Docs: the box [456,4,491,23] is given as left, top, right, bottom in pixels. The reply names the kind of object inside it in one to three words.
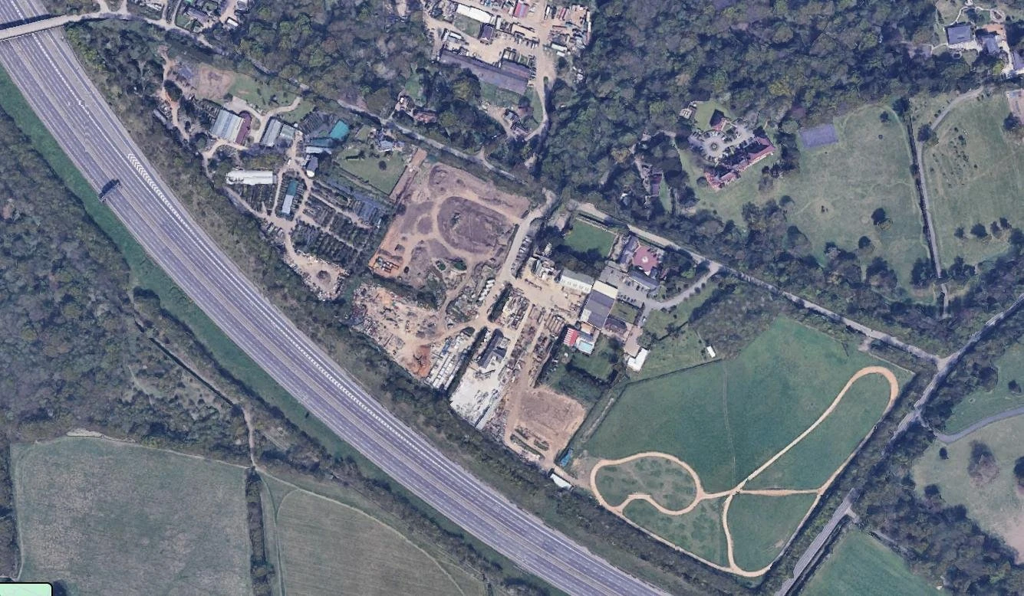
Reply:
shed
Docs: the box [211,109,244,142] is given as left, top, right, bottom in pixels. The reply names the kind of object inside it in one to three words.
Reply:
barn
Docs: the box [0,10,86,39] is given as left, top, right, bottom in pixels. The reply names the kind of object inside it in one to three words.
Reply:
bridge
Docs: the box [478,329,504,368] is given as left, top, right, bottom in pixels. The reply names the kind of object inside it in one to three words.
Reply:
building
